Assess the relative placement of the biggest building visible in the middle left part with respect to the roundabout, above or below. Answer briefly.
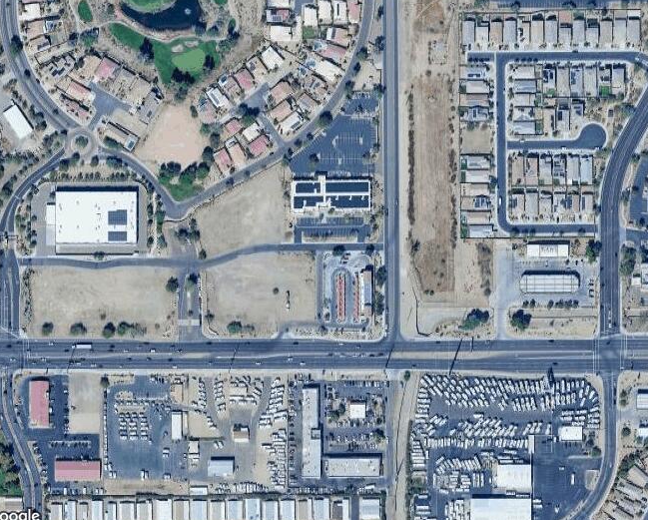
below it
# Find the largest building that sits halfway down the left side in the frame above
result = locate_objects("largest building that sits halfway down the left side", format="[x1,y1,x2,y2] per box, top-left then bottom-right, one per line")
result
[45,192,138,245]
